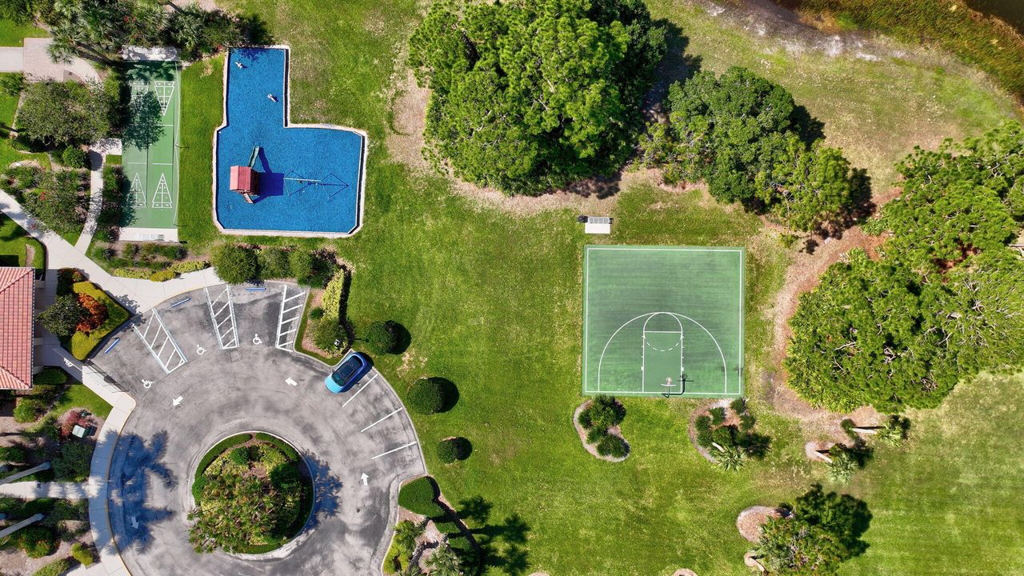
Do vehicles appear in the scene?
Yes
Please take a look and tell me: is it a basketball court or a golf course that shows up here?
basketball court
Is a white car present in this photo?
No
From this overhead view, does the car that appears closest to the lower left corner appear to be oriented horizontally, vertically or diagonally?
diagonally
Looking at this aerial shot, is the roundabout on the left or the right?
left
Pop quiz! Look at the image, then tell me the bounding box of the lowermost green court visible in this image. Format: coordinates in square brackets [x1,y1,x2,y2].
[582,244,746,398]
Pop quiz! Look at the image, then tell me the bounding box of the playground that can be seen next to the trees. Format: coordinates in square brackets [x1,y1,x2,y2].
[211,44,367,237]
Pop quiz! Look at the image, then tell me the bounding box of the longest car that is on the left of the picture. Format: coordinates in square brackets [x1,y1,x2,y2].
[328,351,372,393]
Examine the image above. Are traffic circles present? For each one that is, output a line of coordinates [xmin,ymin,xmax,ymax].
[123,363,383,576]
